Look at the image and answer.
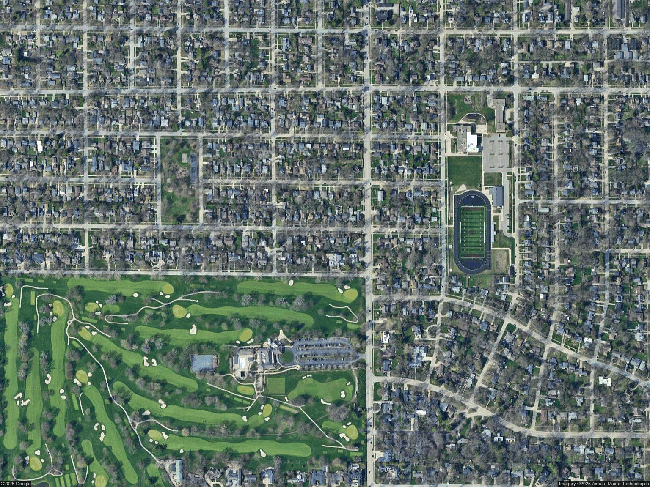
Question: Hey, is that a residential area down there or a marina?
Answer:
residential area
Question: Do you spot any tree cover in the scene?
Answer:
Yes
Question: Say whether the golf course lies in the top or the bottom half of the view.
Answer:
bottom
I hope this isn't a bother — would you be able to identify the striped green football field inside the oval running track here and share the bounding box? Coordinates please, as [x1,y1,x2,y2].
[460,206,486,258]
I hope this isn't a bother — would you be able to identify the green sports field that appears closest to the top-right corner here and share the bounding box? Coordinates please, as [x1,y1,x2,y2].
[449,156,482,185]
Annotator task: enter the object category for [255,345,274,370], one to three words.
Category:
building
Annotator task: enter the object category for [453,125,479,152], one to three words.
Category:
building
